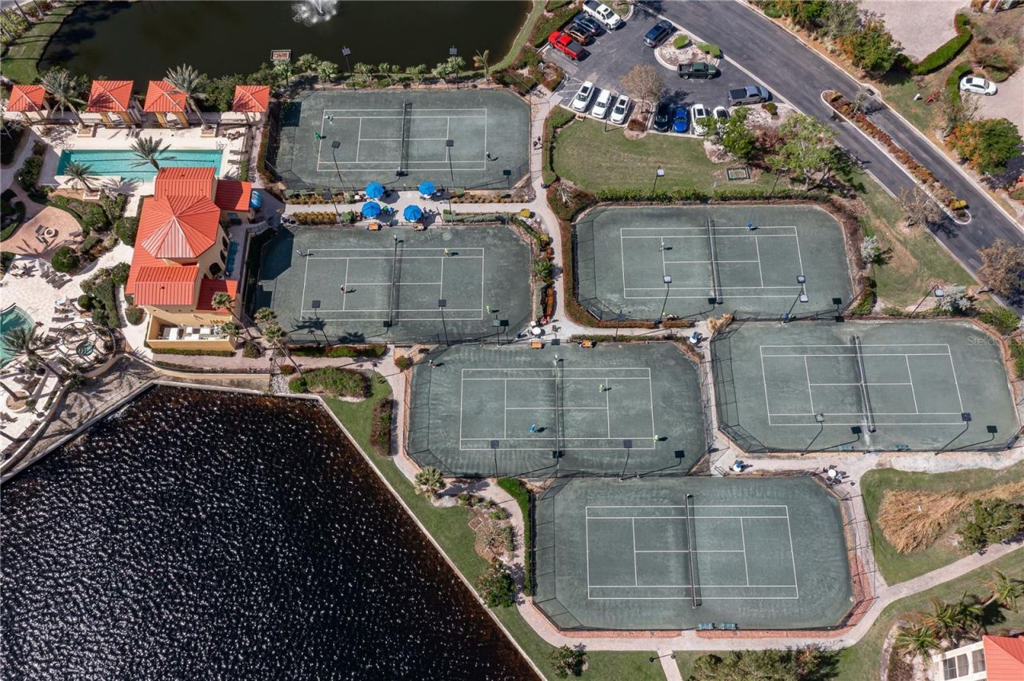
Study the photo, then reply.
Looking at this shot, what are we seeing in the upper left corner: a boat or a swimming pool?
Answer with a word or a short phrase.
swimming pool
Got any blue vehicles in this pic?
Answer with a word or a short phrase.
Yes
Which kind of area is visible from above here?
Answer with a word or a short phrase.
sports ground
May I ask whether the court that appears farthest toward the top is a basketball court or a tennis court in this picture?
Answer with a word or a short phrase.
tennis court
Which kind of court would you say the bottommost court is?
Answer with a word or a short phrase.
tennis court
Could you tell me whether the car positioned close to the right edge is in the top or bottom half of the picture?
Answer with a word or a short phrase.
top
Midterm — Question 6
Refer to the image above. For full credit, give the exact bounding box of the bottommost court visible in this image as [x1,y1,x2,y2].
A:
[532,477,853,630]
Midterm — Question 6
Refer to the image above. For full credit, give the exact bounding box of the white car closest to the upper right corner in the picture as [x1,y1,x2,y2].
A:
[960,76,997,97]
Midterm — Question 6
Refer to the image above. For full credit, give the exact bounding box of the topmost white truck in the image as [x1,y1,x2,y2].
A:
[582,0,622,31]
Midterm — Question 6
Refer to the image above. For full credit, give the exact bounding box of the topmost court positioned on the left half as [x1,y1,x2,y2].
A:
[274,87,532,190]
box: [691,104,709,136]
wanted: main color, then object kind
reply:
white car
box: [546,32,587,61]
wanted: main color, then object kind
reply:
red truck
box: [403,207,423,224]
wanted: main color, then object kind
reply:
blue umbrella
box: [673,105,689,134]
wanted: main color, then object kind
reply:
blue car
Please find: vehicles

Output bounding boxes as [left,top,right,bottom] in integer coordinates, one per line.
[960,76,997,97]
[561,23,594,46]
[642,21,675,47]
[673,105,689,134]
[546,32,587,61]
[571,14,606,37]
[609,94,630,126]
[653,103,669,135]
[725,86,771,106]
[675,61,719,79]
[572,81,593,112]
[691,104,709,136]
[591,88,613,119]
[582,0,622,31]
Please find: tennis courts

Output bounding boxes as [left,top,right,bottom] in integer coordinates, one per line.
[532,477,853,630]
[274,87,532,190]
[406,342,708,479]
[710,320,1021,454]
[574,204,855,321]
[254,224,531,344]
